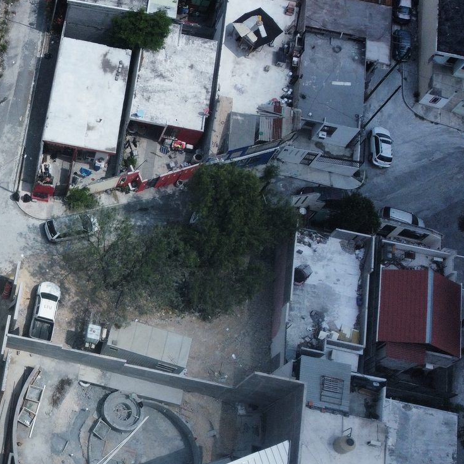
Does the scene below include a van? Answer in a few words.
Yes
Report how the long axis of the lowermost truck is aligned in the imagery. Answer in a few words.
up and down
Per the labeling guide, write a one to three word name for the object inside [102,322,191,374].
building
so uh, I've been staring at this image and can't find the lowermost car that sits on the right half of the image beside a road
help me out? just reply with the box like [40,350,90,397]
[378,202,424,237]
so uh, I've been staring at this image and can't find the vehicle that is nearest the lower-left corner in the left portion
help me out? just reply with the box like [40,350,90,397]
[30,283,63,344]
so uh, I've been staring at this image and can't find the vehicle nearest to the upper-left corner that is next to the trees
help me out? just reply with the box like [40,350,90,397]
[43,211,101,246]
